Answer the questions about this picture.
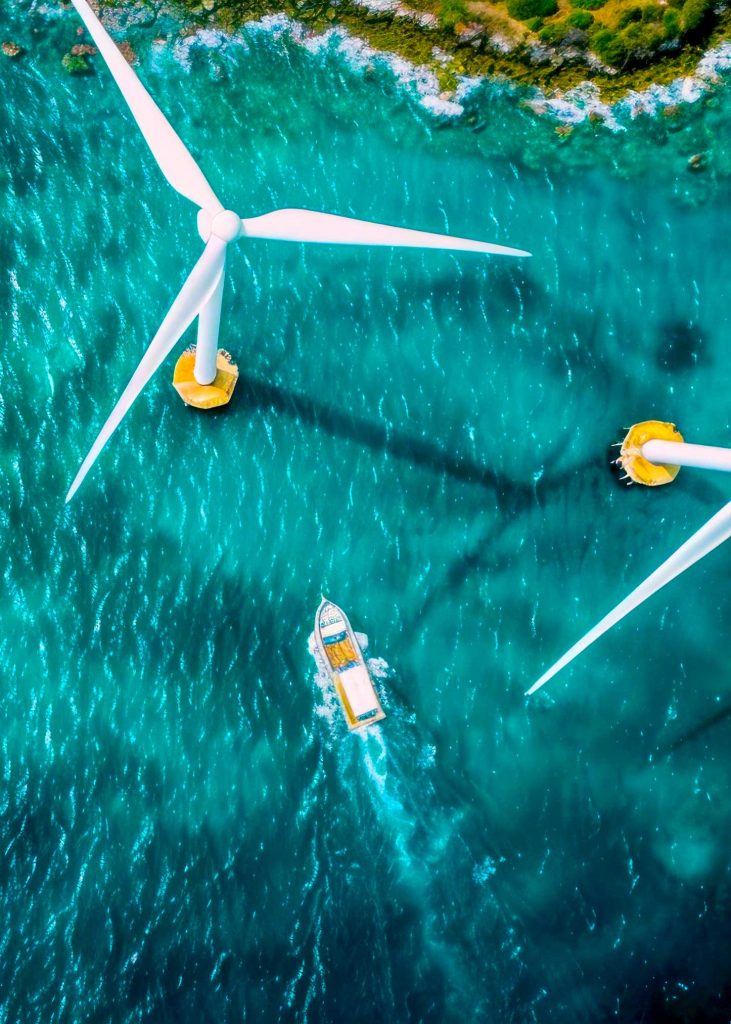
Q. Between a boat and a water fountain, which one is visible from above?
boat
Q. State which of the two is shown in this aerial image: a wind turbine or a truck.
wind turbine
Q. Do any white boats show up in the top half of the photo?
No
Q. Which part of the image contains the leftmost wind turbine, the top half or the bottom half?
top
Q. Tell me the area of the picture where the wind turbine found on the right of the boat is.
right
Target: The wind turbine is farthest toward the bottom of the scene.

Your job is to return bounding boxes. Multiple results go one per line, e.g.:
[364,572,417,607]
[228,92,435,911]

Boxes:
[527,420,731,695]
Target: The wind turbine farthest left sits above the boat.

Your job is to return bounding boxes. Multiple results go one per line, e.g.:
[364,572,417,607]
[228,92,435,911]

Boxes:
[66,0,533,502]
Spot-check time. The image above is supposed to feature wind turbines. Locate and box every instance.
[66,0,533,502]
[527,420,731,695]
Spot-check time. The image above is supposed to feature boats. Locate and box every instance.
[318,595,385,730]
